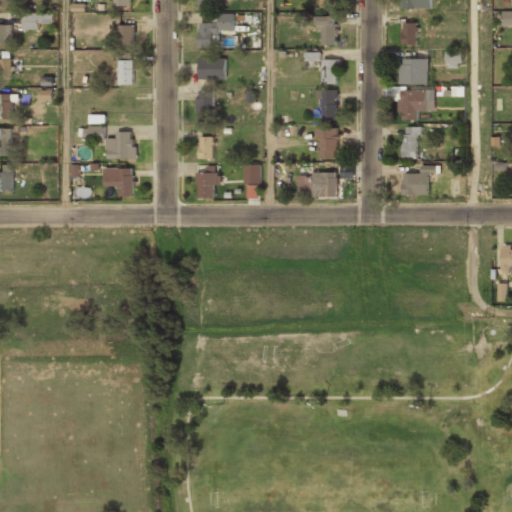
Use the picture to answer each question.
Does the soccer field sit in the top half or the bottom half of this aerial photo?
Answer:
bottom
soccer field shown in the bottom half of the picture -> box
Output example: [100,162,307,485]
[214,428,434,512]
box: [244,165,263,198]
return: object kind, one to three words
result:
building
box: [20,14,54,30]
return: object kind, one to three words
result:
house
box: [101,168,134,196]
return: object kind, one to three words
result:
house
